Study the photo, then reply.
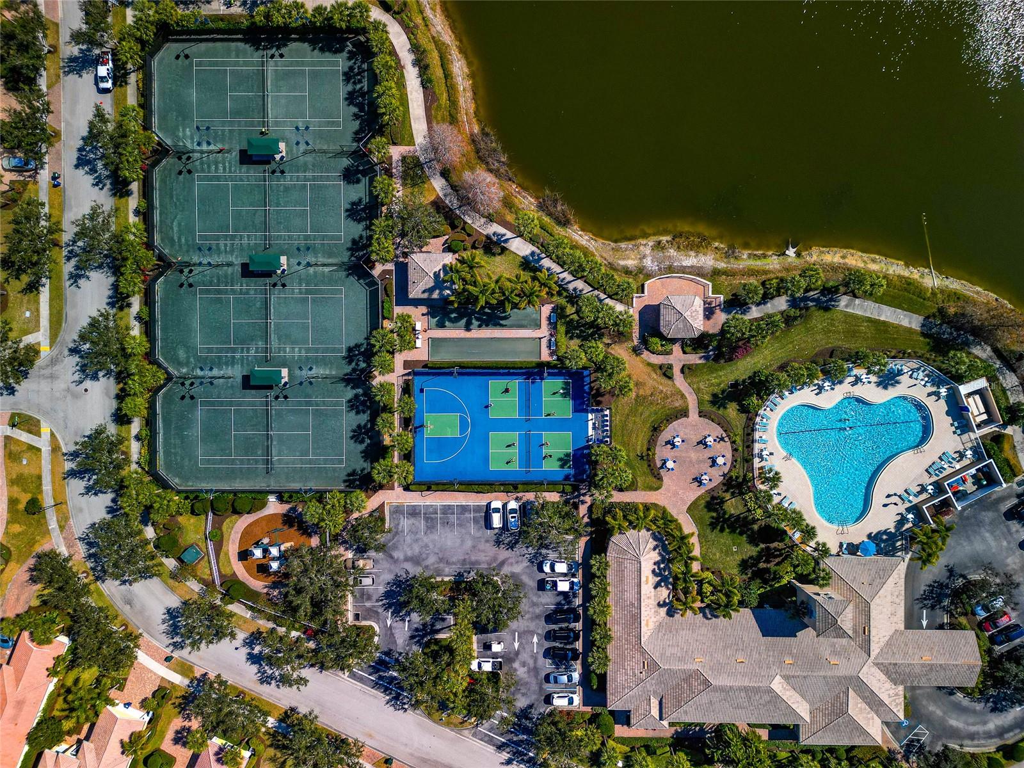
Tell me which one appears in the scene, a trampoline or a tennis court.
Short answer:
tennis court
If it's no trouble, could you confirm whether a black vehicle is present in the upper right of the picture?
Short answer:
No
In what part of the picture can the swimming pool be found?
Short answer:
right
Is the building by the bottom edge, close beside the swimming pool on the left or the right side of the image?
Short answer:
right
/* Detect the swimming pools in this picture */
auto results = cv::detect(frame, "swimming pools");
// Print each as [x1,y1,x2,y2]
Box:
[753,360,985,556]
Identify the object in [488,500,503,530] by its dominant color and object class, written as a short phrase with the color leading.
white car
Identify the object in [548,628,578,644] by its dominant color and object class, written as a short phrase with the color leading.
black car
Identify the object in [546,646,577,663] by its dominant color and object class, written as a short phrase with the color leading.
black car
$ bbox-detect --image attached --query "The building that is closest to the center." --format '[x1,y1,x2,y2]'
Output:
[407,252,453,299]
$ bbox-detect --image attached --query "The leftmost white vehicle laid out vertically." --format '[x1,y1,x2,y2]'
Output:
[96,51,114,90]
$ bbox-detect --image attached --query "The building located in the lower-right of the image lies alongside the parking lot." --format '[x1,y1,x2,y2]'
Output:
[607,529,982,745]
